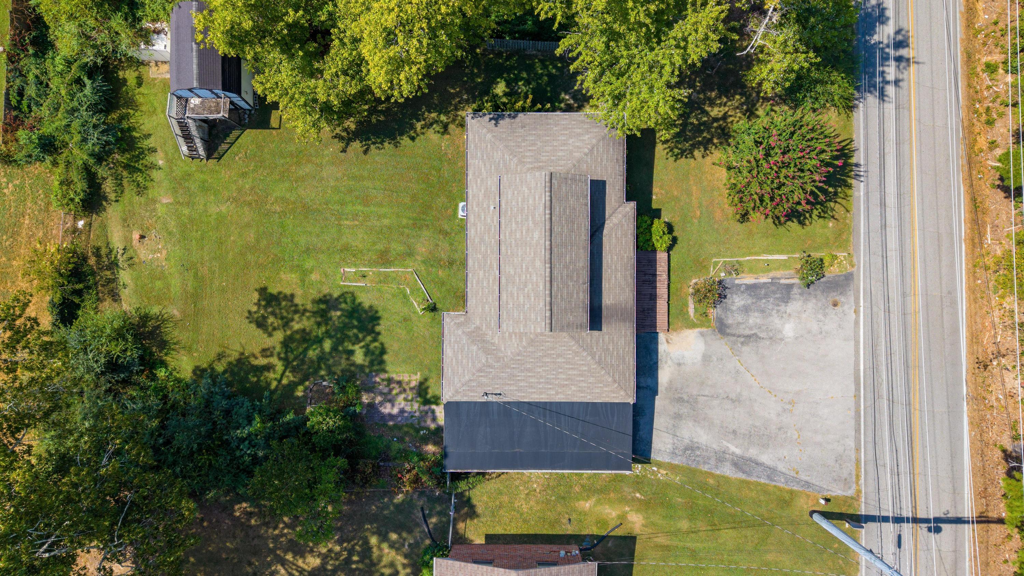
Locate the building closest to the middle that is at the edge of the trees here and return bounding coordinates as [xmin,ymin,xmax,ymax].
[441,112,637,473]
